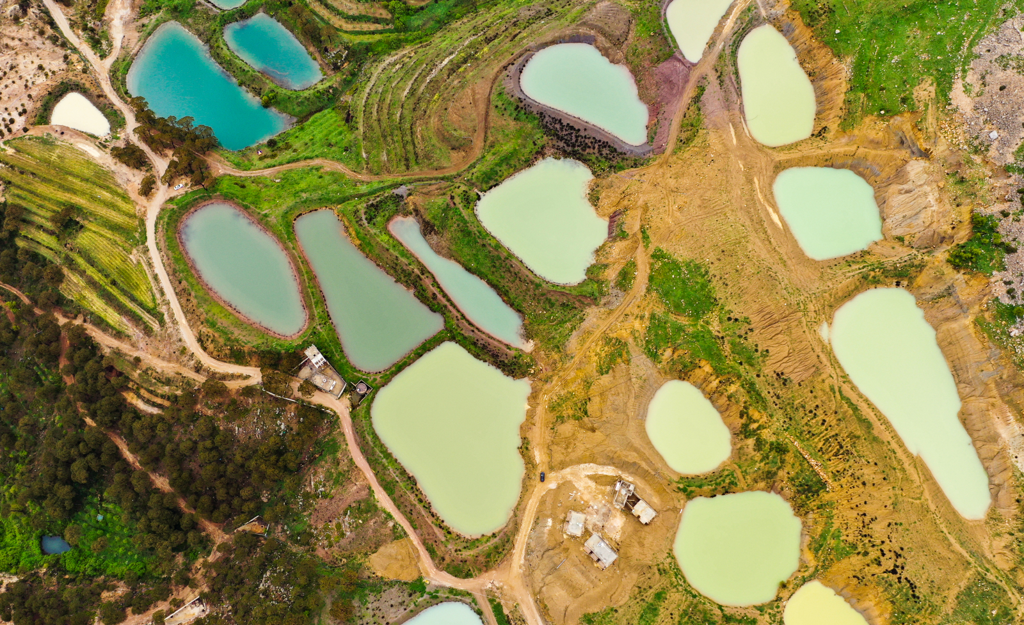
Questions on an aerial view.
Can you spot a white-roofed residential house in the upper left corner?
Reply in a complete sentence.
No, no white-roofed residential house can be made out in the upper left corner.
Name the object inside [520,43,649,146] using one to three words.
pond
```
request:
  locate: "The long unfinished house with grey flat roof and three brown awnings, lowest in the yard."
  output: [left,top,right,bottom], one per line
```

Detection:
[581,534,618,570]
